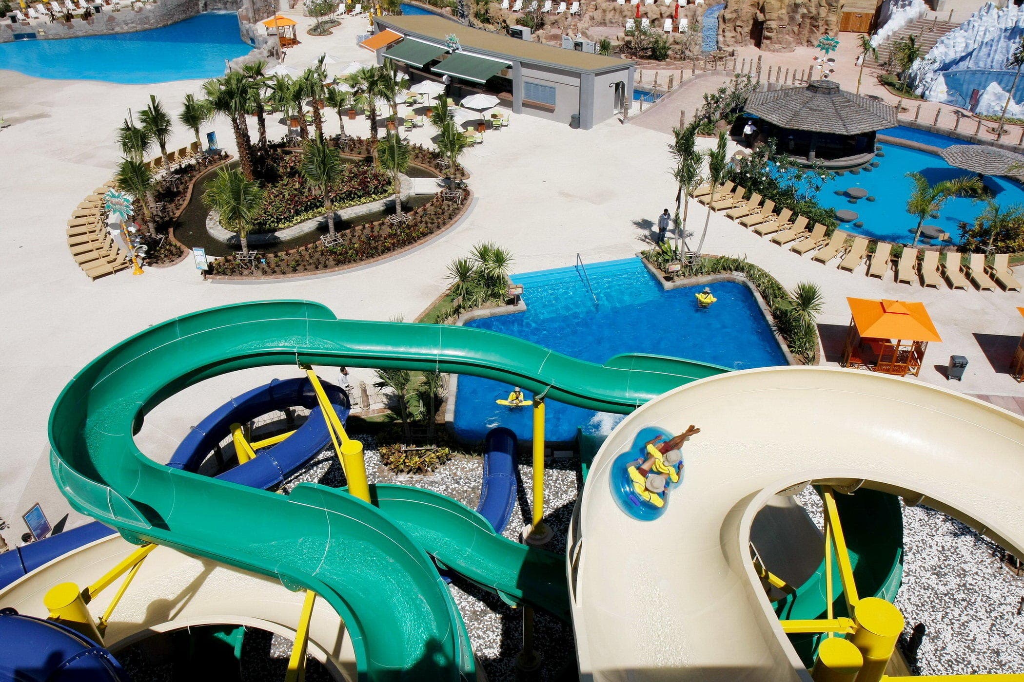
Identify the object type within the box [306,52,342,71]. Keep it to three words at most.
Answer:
umbrella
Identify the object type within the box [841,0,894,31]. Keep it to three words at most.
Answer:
building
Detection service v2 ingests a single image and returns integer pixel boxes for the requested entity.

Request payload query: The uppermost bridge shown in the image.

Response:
[620,69,775,137]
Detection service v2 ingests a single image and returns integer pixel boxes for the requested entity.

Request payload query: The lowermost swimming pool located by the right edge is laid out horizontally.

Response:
[734,129,1024,246]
